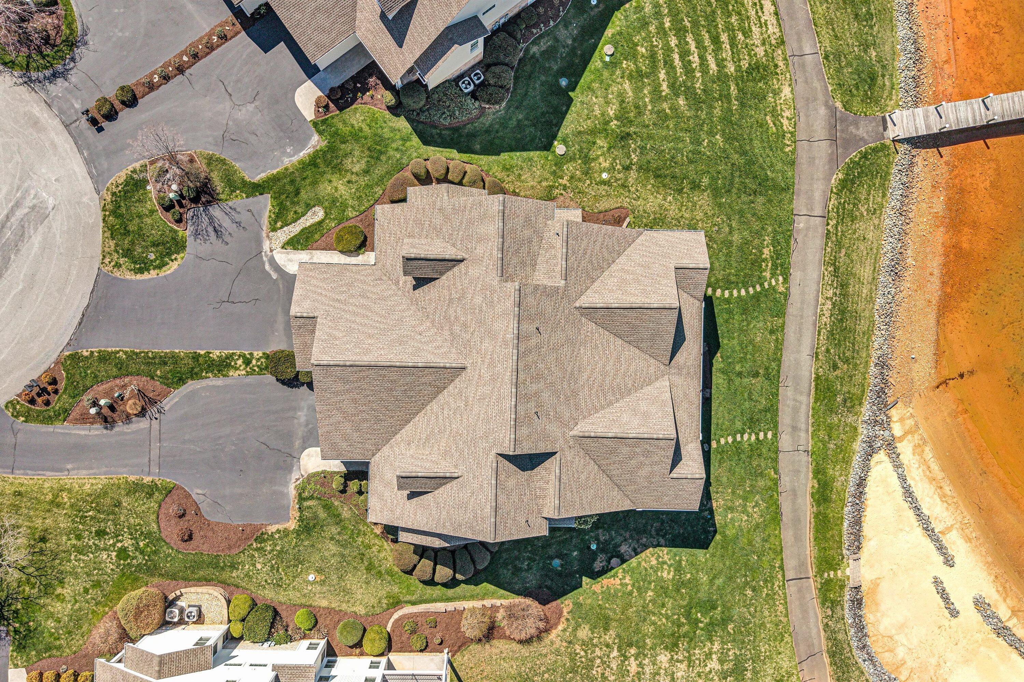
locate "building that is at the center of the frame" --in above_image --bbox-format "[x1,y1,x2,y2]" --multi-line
[289,184,710,547]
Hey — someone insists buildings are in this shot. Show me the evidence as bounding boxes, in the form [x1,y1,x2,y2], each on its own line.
[289,184,710,547]
[94,627,451,682]
[232,0,547,95]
